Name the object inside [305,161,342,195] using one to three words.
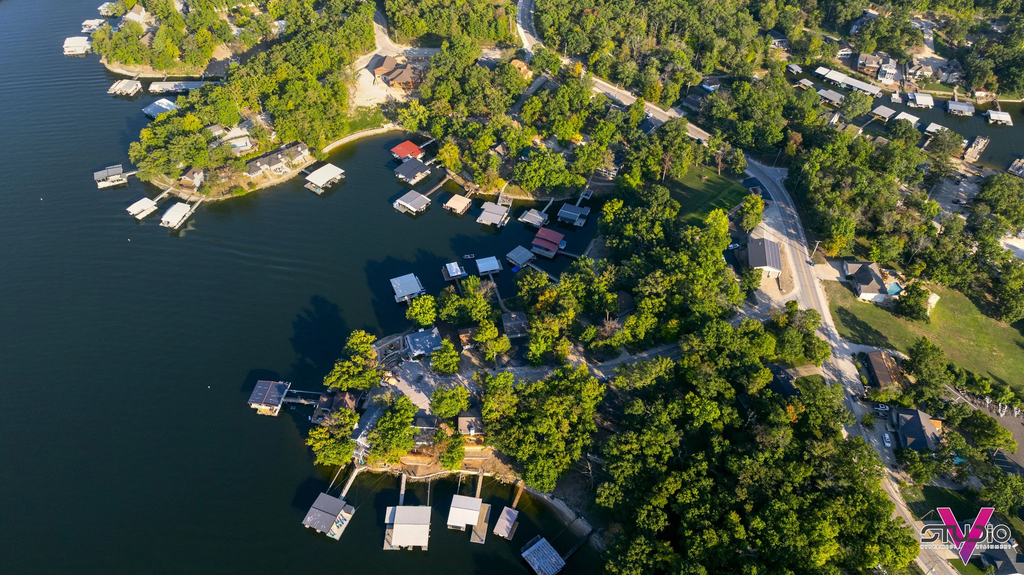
pier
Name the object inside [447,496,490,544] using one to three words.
pier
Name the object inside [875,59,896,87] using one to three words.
house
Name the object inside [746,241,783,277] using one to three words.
building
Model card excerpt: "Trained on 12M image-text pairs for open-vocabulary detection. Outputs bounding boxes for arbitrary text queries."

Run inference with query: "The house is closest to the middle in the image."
[502,311,529,340]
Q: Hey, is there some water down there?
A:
Yes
